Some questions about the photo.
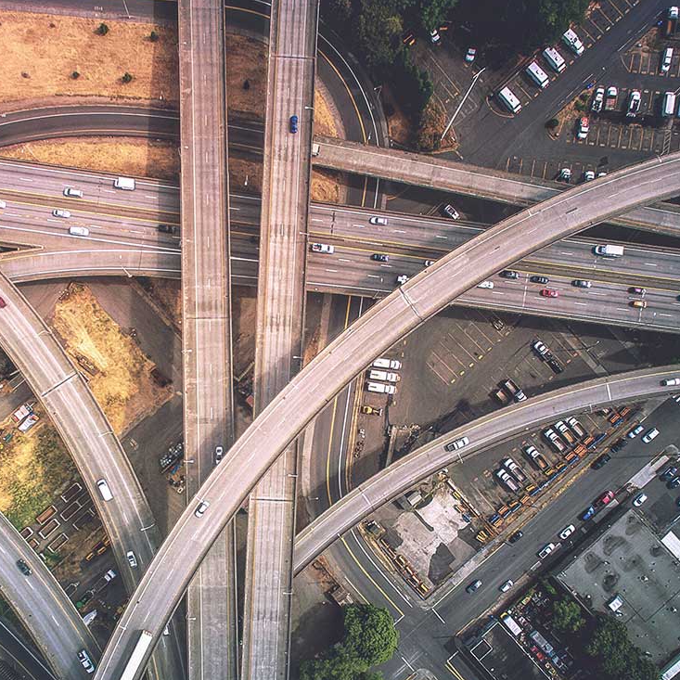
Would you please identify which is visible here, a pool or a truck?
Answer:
truck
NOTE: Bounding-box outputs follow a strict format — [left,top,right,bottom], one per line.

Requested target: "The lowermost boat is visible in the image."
[83,609,98,627]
